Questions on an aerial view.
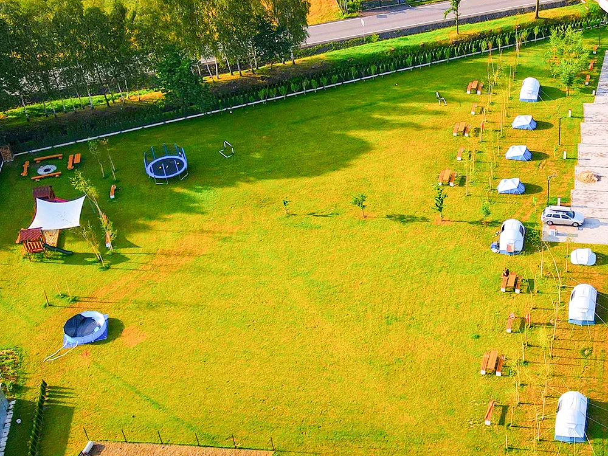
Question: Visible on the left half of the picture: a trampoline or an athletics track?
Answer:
trampoline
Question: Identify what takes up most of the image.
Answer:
grass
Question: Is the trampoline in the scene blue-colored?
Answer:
Yes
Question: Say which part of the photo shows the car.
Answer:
right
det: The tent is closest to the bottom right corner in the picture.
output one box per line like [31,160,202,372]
[540,388,606,456]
